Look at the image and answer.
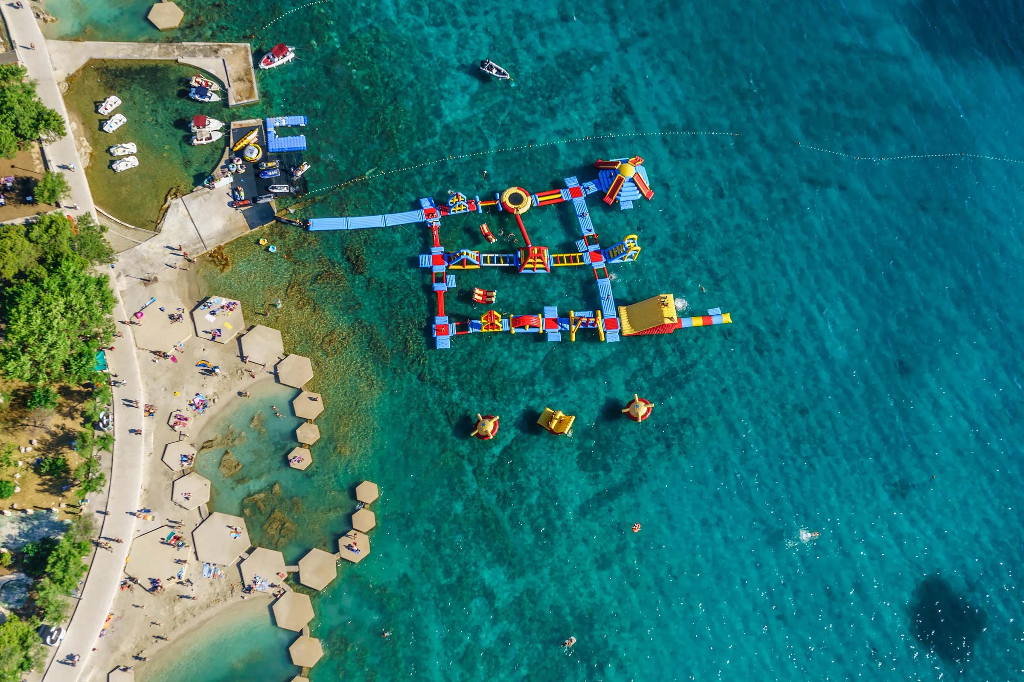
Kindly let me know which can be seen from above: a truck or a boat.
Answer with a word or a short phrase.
boat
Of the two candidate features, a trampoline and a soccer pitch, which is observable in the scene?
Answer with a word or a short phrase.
trampoline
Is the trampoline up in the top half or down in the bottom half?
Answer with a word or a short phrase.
top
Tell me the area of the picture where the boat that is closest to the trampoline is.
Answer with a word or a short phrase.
top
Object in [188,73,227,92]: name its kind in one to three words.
boat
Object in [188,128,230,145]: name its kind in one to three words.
boat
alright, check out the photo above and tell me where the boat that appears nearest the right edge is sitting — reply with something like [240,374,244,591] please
[476,57,512,79]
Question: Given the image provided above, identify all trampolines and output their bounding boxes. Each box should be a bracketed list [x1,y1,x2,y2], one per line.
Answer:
[501,186,532,215]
